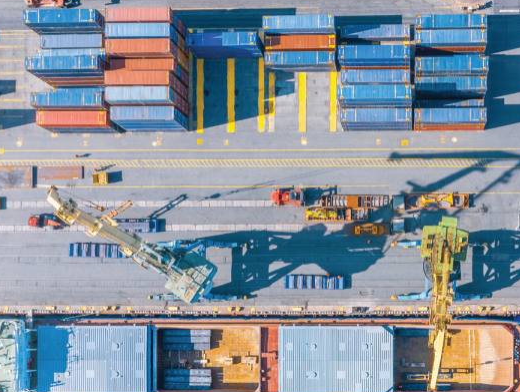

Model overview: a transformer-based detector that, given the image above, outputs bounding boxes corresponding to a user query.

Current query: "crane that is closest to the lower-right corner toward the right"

[389,211,491,392]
